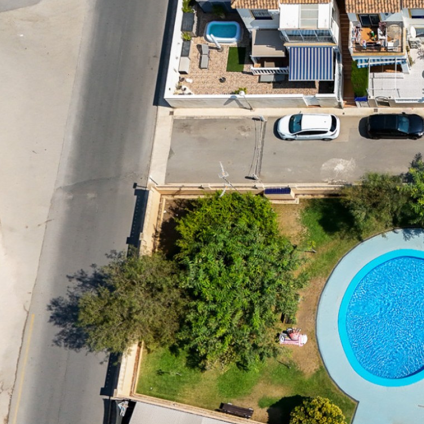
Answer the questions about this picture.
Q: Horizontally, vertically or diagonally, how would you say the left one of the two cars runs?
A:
horizontally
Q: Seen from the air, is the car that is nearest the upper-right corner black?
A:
Yes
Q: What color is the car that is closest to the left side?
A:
white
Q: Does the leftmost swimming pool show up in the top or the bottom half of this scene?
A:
top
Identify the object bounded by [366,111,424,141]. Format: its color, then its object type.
black car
